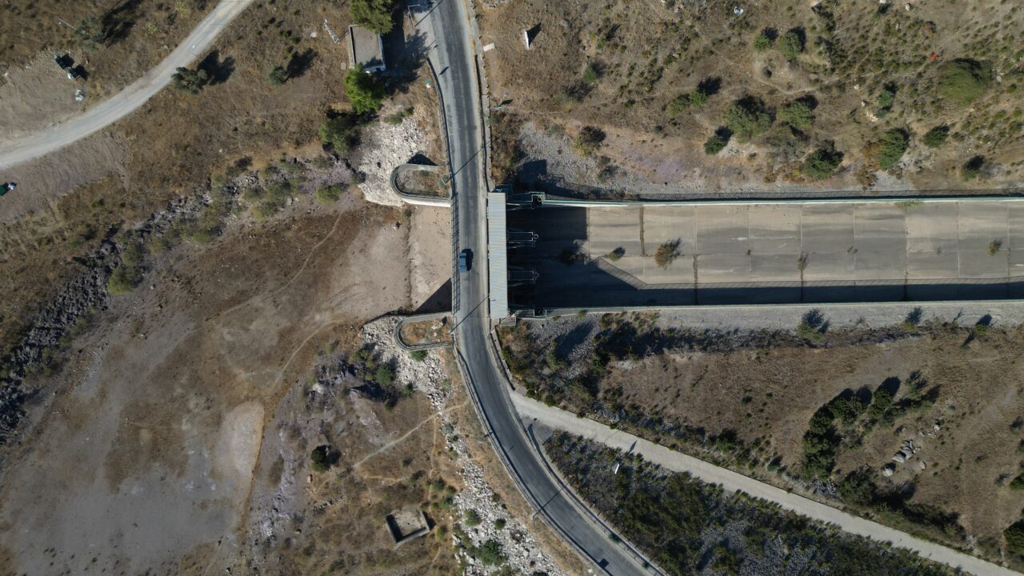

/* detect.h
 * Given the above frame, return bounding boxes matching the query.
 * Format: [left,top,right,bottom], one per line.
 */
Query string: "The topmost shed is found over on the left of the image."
[349,25,389,81]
